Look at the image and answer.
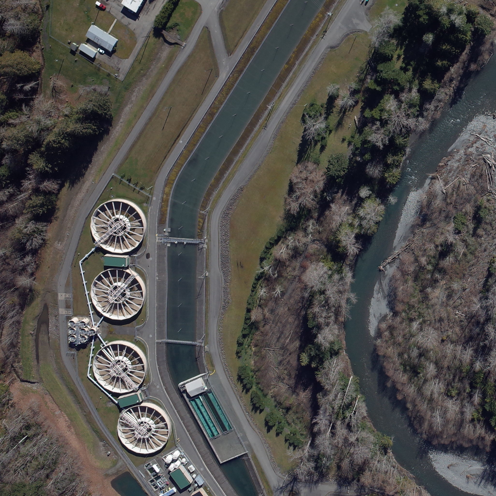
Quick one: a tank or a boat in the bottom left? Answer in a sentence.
It is a tank that can be seen in the bottom left.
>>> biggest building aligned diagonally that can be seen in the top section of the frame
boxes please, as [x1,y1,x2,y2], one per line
[86,24,120,51]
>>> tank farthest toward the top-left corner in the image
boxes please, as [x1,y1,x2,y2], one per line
[91,197,150,252]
